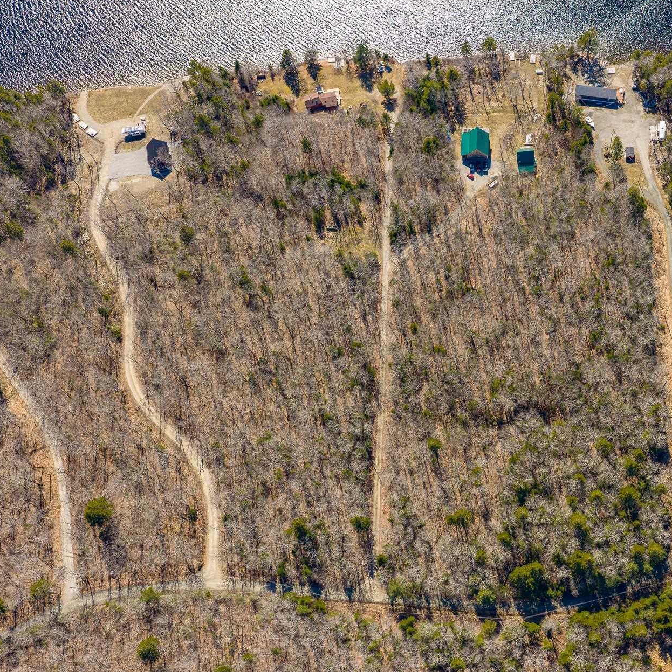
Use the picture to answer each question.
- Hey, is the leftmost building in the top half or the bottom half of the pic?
top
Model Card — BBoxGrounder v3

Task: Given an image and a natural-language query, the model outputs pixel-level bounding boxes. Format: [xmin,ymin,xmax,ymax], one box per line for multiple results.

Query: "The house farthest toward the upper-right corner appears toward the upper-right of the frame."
[575,85,625,106]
